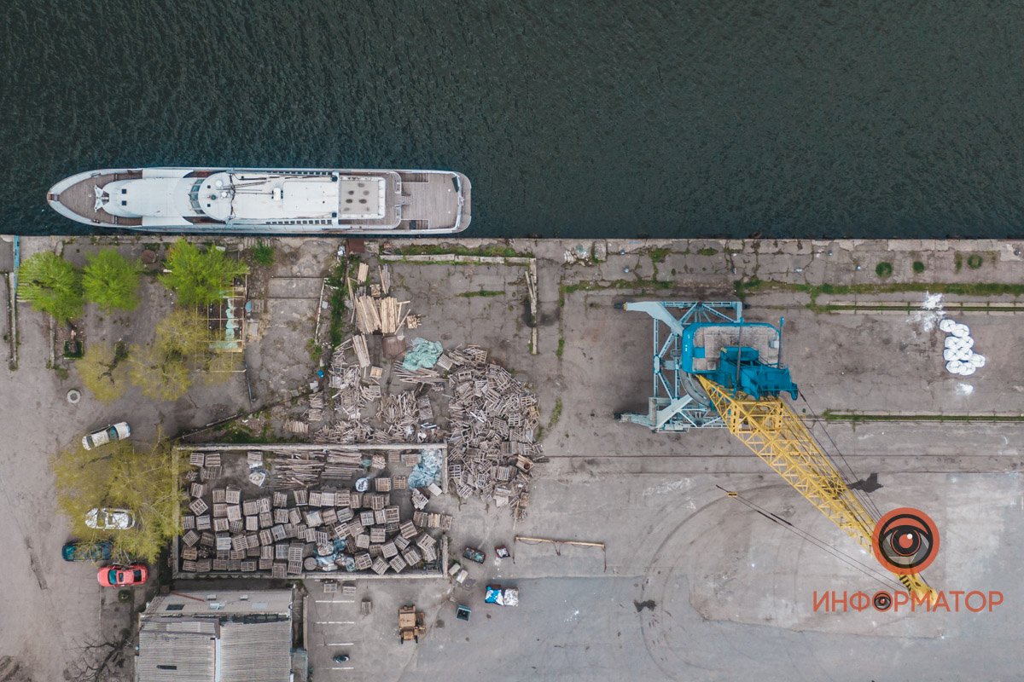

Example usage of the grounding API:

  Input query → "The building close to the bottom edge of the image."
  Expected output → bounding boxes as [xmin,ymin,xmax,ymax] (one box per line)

[135,579,301,682]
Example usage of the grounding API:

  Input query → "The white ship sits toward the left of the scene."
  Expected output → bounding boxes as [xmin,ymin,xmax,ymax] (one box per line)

[47,166,472,236]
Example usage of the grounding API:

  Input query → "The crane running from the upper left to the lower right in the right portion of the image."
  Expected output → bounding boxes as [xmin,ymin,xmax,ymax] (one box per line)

[614,296,939,610]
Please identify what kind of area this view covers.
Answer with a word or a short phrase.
port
